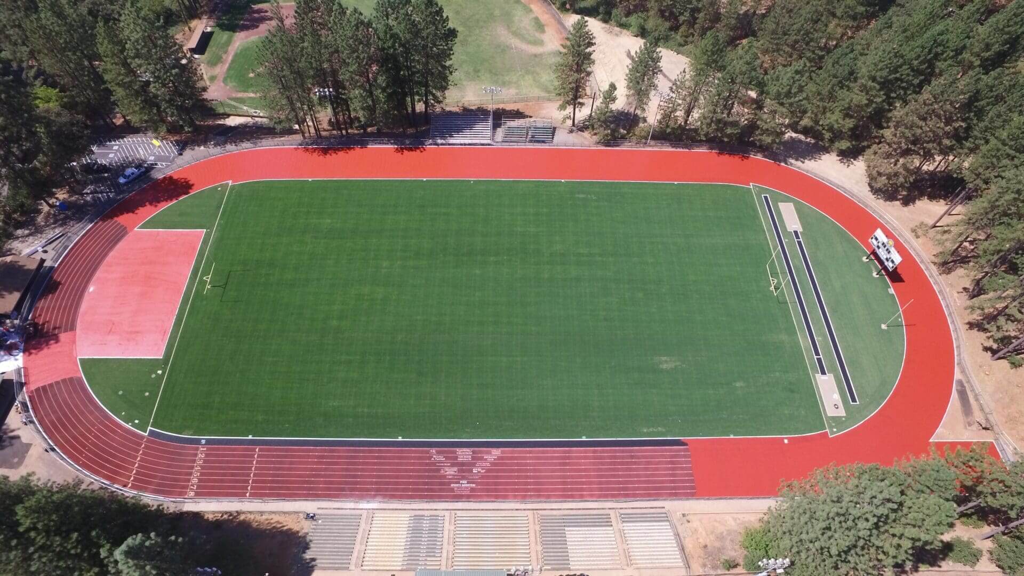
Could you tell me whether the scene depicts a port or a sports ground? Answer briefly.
sports ground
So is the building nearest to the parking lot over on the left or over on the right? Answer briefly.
left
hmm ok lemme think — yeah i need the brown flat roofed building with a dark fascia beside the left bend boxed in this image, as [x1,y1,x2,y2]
[0,255,47,325]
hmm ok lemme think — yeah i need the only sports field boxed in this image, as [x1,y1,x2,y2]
[150,179,828,439]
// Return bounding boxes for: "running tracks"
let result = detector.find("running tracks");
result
[23,146,1011,500]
